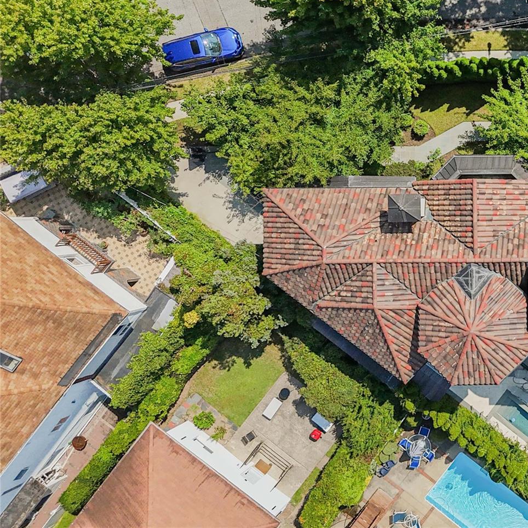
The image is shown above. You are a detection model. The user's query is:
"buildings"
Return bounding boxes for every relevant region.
[0,191,147,528]
[65,421,306,528]
[260,154,528,402]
